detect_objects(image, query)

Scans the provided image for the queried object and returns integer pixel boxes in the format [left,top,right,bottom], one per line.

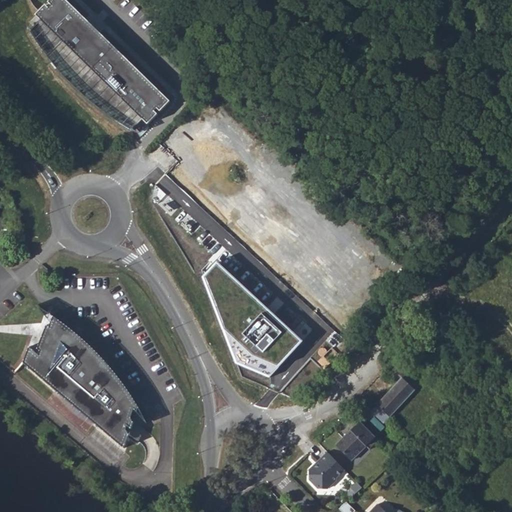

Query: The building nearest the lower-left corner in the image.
[24,304,147,446]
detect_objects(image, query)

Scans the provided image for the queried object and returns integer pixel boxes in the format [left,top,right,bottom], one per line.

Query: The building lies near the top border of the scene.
[30,0,170,130]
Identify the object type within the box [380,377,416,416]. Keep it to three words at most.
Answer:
house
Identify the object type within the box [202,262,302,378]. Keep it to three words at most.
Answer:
building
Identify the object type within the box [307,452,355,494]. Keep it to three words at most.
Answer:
house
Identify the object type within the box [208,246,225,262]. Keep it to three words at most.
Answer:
vehicle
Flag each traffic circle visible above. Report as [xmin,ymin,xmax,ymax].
[50,174,132,255]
